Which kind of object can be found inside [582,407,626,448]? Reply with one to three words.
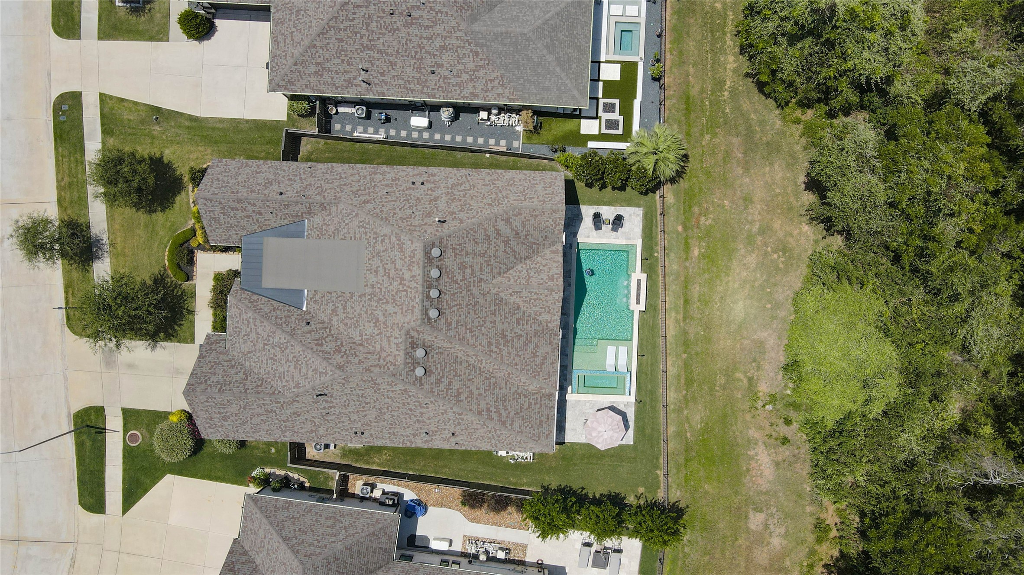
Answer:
umbrella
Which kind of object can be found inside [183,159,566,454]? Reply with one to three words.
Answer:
house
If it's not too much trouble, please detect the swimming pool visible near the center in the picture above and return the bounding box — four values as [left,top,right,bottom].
[567,238,648,403]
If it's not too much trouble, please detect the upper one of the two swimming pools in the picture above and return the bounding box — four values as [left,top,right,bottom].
[602,0,647,61]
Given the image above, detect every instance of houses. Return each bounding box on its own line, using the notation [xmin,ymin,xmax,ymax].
[220,486,570,575]
[183,159,566,454]
[178,0,594,114]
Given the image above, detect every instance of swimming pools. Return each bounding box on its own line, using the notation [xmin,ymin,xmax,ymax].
[567,238,648,403]
[602,0,647,61]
